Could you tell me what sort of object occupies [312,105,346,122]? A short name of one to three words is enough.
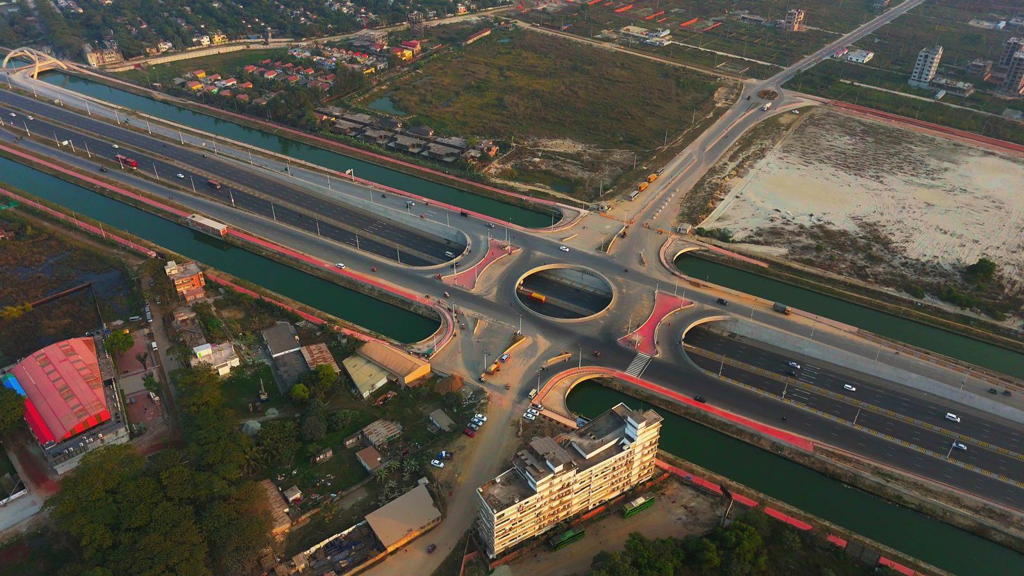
house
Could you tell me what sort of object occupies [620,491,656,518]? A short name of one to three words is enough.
bus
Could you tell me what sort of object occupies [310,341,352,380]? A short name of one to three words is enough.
shed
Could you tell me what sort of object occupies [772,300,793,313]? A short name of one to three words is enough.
vehicle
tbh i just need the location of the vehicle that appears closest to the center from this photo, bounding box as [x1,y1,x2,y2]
[527,290,550,303]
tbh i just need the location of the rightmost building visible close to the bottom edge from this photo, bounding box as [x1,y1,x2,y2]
[474,398,664,554]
